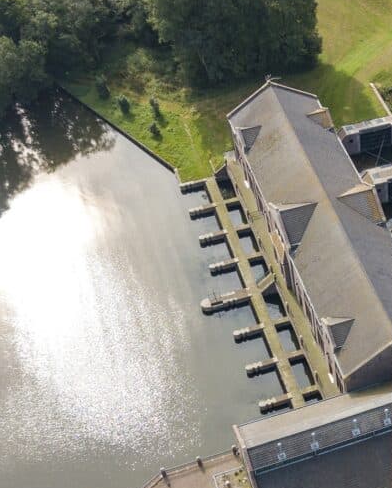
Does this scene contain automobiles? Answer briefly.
No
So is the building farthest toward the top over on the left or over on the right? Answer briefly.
right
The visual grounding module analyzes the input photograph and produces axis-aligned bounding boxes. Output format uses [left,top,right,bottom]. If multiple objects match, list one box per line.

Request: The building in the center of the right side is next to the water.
[225,70,392,394]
